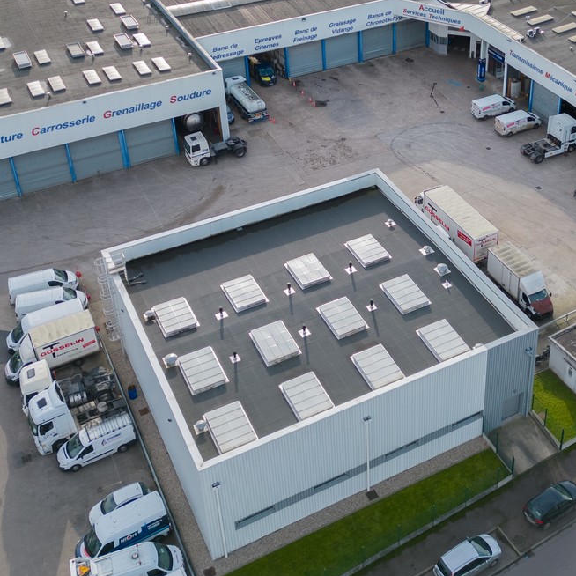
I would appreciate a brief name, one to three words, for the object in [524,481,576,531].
car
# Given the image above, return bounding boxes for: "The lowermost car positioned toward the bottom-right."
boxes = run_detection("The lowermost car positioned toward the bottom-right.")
[431,533,502,576]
